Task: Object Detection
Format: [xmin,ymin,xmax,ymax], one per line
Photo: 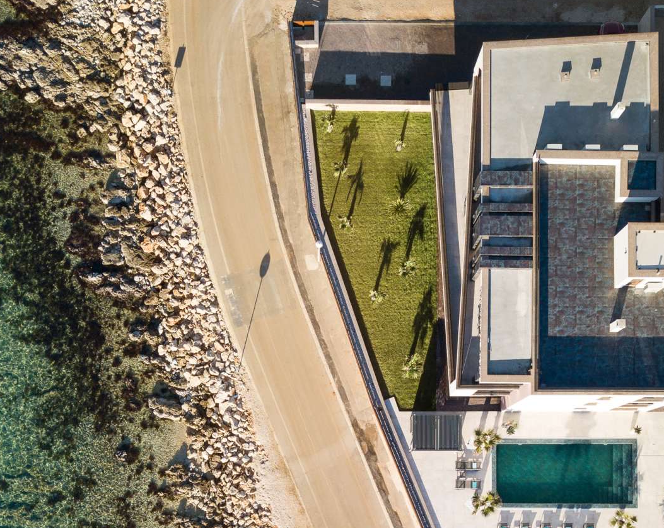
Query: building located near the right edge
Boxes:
[467,32,664,410]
